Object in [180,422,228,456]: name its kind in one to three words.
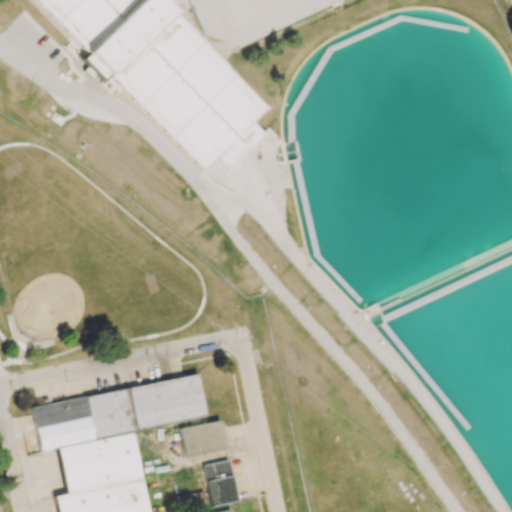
building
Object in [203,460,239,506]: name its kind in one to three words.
house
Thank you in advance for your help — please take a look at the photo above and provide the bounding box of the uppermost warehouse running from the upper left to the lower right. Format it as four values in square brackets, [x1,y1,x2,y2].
[34,0,270,170]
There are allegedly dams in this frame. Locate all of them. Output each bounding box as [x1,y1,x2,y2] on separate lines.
[362,248,512,318]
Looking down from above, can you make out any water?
Yes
